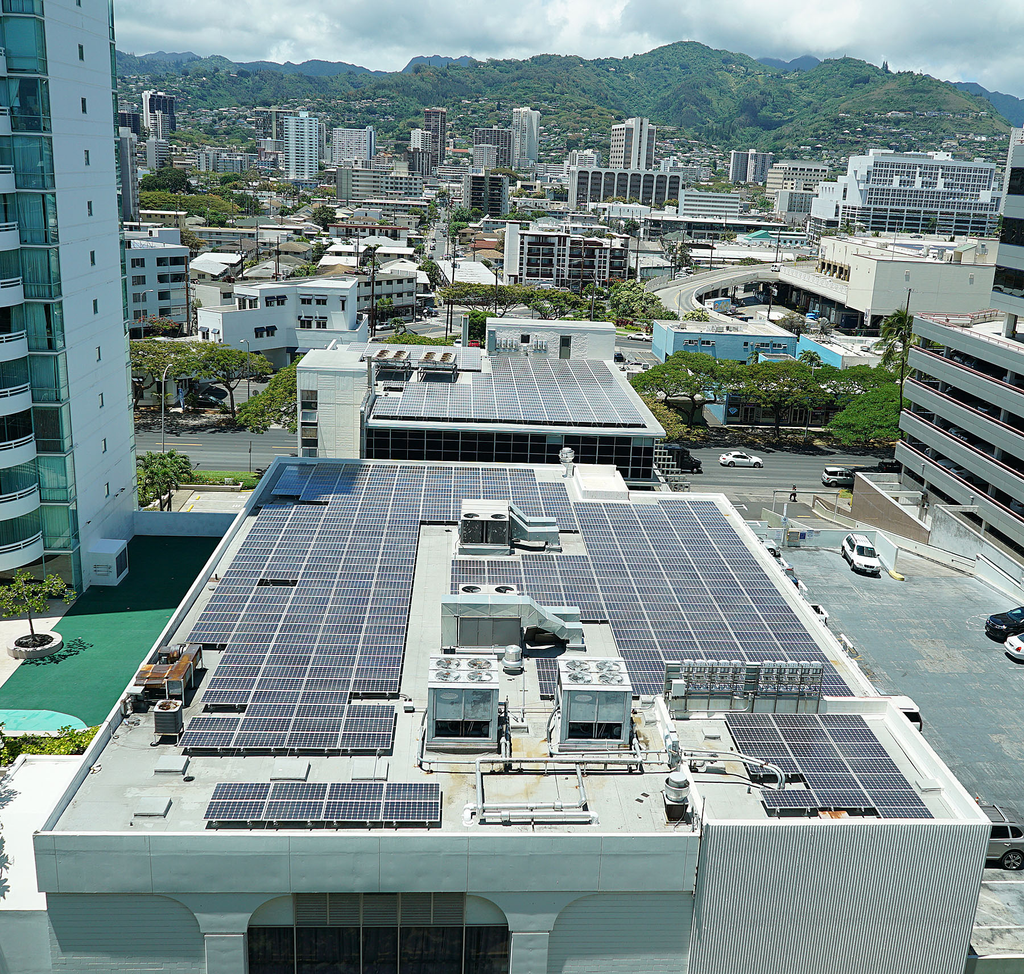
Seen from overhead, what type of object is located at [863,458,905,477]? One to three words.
vehicle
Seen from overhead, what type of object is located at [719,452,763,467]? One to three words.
car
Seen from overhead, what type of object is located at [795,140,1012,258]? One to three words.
building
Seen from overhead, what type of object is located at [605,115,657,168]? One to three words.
building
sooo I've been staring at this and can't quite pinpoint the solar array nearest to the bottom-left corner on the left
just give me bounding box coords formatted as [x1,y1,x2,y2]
[203,783,442,834]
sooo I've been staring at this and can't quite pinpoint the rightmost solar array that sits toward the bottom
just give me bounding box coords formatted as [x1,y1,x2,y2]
[723,714,938,815]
